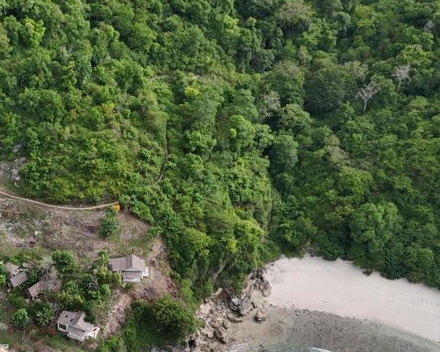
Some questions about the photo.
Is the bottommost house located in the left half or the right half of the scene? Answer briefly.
left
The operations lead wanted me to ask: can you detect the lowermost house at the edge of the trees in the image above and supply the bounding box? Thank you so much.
[50,308,96,346]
